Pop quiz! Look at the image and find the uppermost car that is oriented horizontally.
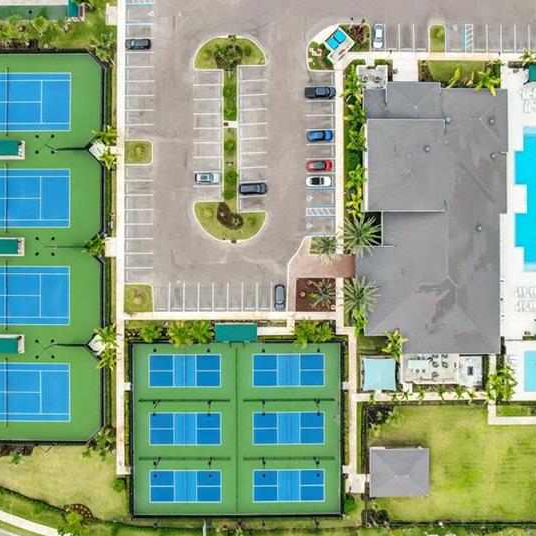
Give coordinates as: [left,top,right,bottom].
[125,37,152,50]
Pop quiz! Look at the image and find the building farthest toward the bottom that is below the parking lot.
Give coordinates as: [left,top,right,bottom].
[369,441,429,497]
